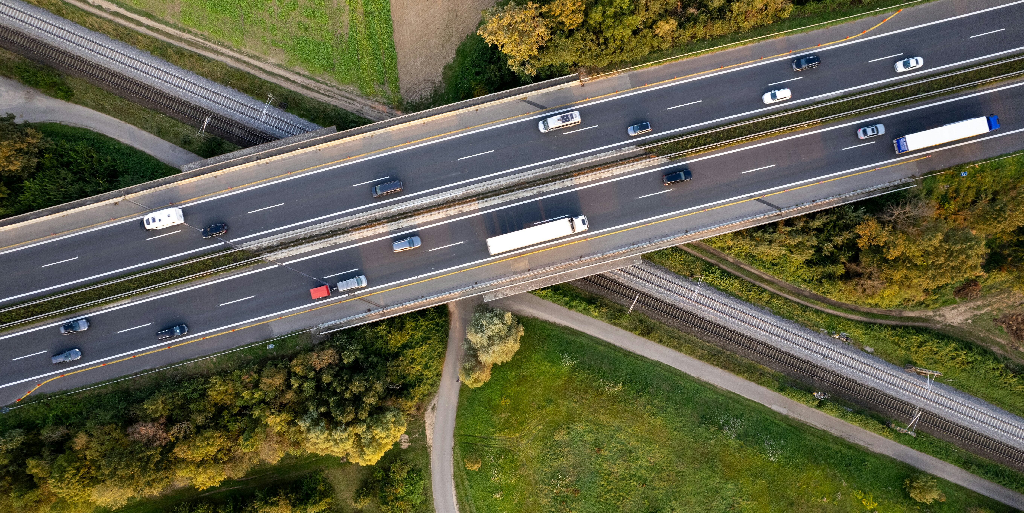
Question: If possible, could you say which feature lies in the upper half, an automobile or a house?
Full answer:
There is an automobile in the upper half.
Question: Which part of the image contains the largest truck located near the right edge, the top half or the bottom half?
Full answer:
The largest truck located near the right edge sits in the top half of the picture.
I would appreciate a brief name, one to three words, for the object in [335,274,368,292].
vehicle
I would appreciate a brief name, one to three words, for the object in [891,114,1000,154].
truck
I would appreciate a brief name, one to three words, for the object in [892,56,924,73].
car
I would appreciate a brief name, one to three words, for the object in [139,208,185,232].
camper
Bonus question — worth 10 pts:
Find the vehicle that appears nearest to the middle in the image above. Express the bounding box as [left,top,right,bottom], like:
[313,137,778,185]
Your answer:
[486,213,589,254]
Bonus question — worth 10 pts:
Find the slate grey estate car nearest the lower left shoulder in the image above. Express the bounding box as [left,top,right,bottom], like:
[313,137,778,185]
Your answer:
[52,348,83,365]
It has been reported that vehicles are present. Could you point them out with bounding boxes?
[335,274,368,292]
[139,208,185,232]
[761,88,792,104]
[371,180,403,197]
[790,55,822,72]
[891,114,1000,154]
[661,169,692,186]
[391,236,421,252]
[855,123,885,139]
[626,121,652,137]
[60,319,91,335]
[52,348,83,365]
[157,324,189,341]
[202,223,228,239]
[892,56,924,73]
[539,112,581,133]
[486,213,589,254]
